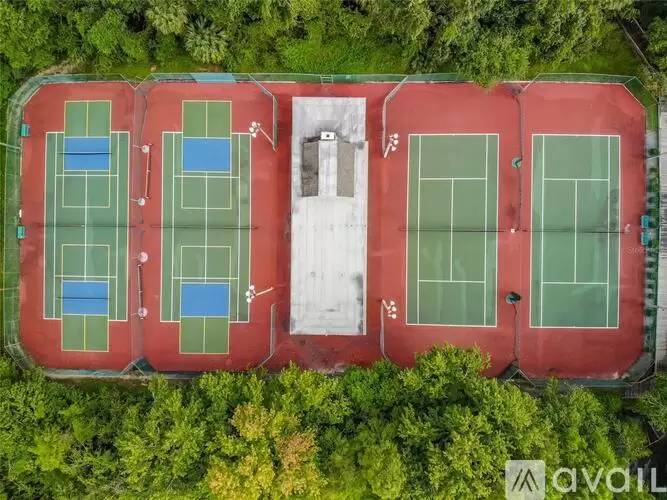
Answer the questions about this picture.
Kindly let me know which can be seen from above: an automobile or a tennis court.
tennis court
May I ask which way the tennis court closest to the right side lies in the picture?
up and down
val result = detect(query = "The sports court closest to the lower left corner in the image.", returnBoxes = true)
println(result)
[62,243,109,350]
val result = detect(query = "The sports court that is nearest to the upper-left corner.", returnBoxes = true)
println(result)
[63,100,111,207]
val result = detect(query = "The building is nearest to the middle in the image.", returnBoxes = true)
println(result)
[288,131,367,335]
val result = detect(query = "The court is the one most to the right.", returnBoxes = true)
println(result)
[530,135,621,328]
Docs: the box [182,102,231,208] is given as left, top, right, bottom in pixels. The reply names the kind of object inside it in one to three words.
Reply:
sports court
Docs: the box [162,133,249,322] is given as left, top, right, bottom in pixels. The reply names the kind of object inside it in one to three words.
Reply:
tennis court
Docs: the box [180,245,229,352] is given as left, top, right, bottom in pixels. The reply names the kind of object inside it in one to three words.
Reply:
sports court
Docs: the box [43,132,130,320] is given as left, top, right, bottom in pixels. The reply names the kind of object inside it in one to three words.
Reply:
tennis court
